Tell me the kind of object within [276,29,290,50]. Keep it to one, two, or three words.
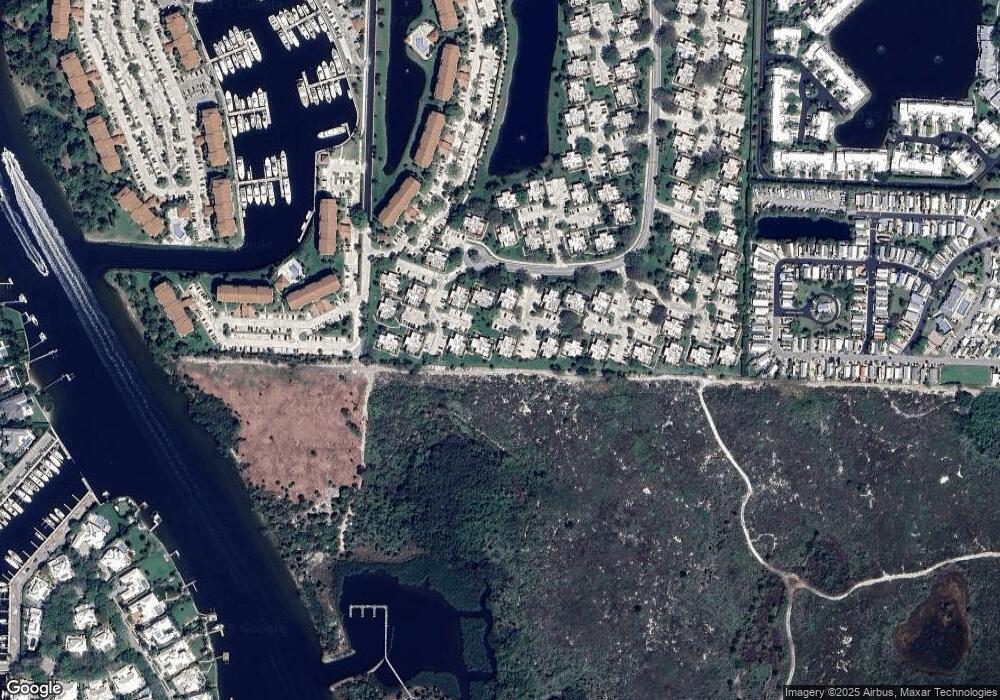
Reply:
boat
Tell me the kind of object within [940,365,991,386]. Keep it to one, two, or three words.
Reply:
sports field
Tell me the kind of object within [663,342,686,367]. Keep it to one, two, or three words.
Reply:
house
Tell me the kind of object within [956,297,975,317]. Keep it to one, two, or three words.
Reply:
swimming pool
